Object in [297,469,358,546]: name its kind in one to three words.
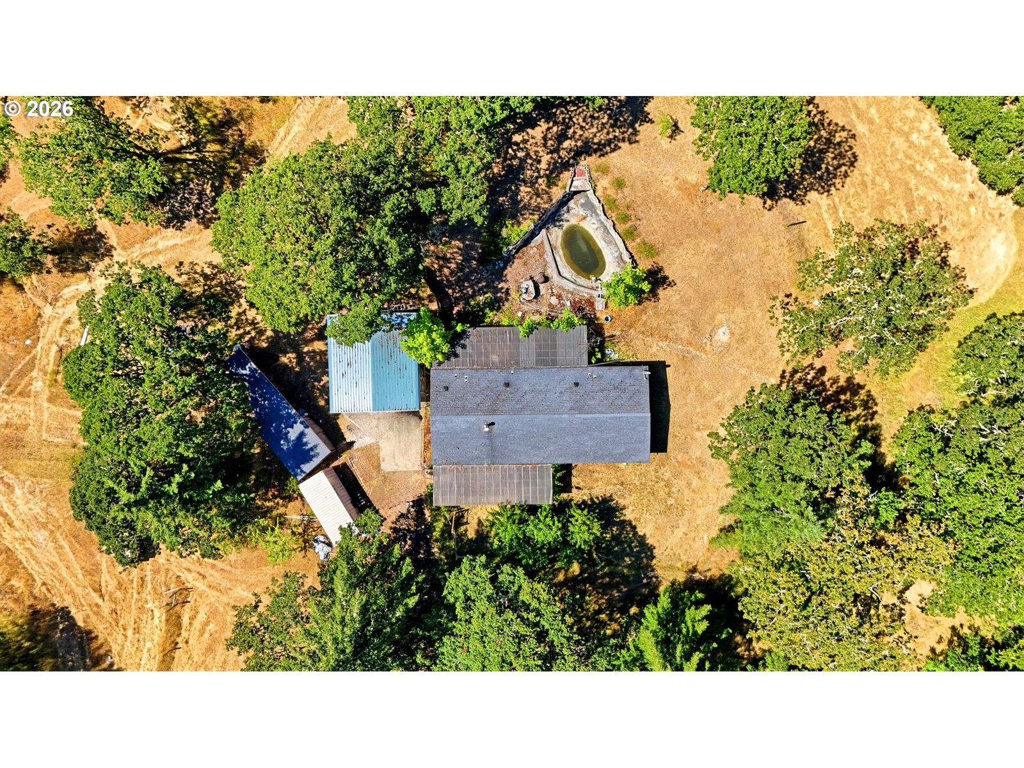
shed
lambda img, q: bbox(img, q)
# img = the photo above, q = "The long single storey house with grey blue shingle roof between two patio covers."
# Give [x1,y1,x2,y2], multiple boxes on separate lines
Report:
[430,364,652,466]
